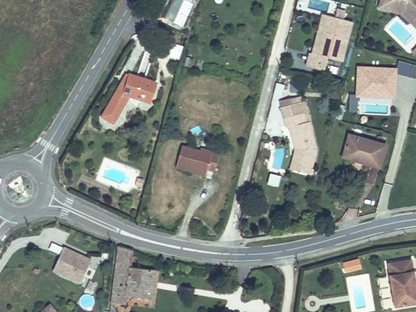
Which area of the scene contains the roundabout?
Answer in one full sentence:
Look in the left portion of the view to spot the roundabout.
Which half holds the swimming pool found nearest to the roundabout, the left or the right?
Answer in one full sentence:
The swimming pool found nearest to the roundabout appears in the left half of the scene.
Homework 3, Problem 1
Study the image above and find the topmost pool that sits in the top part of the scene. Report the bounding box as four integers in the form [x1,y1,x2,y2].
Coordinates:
[296,0,337,14]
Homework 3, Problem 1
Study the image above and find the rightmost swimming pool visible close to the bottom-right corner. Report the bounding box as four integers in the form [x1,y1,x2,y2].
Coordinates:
[346,274,375,312]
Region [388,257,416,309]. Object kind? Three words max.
house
